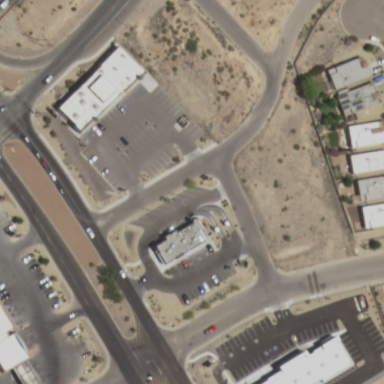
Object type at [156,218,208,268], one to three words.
building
